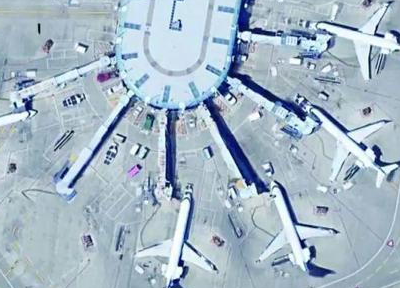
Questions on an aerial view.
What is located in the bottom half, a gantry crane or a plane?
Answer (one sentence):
You can see a plane in the bottom half.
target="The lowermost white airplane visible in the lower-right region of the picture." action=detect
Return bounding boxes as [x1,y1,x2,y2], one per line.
[256,182,334,288]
